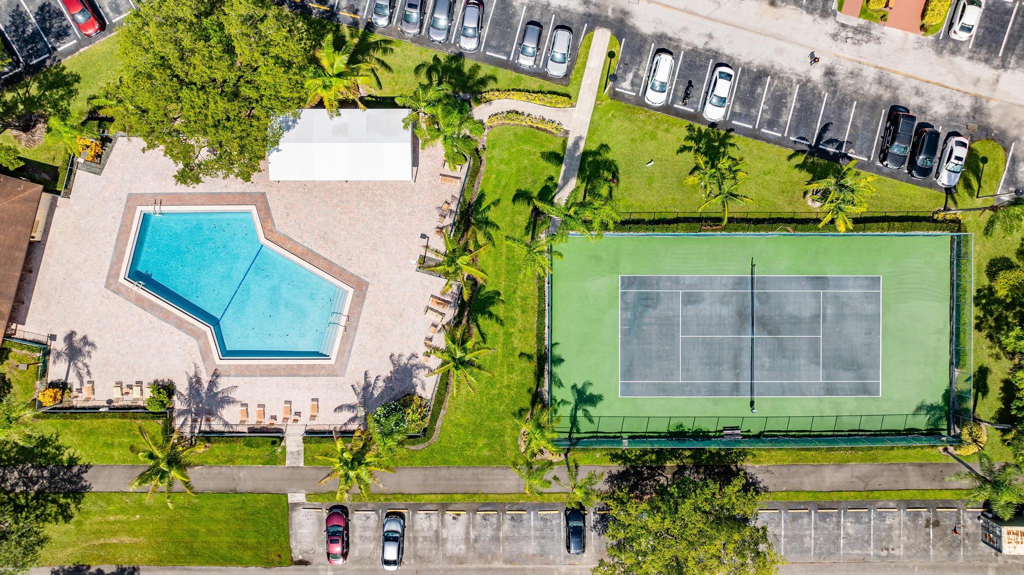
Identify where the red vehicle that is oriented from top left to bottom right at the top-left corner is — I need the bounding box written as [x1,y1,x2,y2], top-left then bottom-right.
[63,0,104,39]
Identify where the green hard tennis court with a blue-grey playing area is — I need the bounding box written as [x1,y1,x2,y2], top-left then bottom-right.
[551,236,950,436]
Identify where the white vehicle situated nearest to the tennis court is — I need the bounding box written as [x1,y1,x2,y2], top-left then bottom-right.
[934,135,971,189]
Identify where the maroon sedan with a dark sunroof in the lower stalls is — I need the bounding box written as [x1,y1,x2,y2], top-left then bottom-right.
[323,508,349,565]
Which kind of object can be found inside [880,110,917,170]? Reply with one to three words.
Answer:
truck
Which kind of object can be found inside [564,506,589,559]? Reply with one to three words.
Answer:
car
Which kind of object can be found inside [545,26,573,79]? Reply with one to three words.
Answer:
car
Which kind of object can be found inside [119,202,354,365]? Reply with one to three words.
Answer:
swimming pool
